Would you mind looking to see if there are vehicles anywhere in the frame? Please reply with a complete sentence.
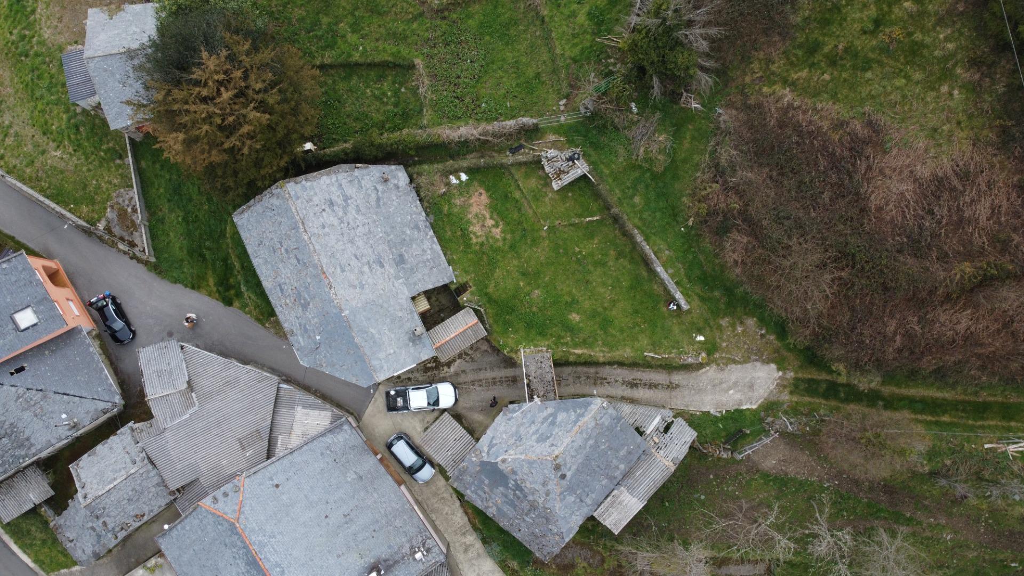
Yes, there is a vehicle in the image.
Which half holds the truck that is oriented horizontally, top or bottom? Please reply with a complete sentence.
You can find the truck that is oriented horizontally in the bottom half.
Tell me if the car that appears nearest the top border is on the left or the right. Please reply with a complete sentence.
The car that appears nearest the top border appears in the left half of the scene.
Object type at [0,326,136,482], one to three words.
house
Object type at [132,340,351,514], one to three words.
barn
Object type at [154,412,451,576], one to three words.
house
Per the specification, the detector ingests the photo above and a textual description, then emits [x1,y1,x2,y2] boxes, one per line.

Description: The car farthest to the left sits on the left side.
[84,290,143,346]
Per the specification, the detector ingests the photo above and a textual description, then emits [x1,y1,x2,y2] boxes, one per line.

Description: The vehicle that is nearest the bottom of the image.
[385,430,435,483]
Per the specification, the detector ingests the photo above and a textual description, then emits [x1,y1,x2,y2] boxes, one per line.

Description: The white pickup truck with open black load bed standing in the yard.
[383,379,460,414]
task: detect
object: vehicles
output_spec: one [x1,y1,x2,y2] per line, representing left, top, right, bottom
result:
[84,290,143,346]
[385,430,435,483]
[383,379,460,414]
